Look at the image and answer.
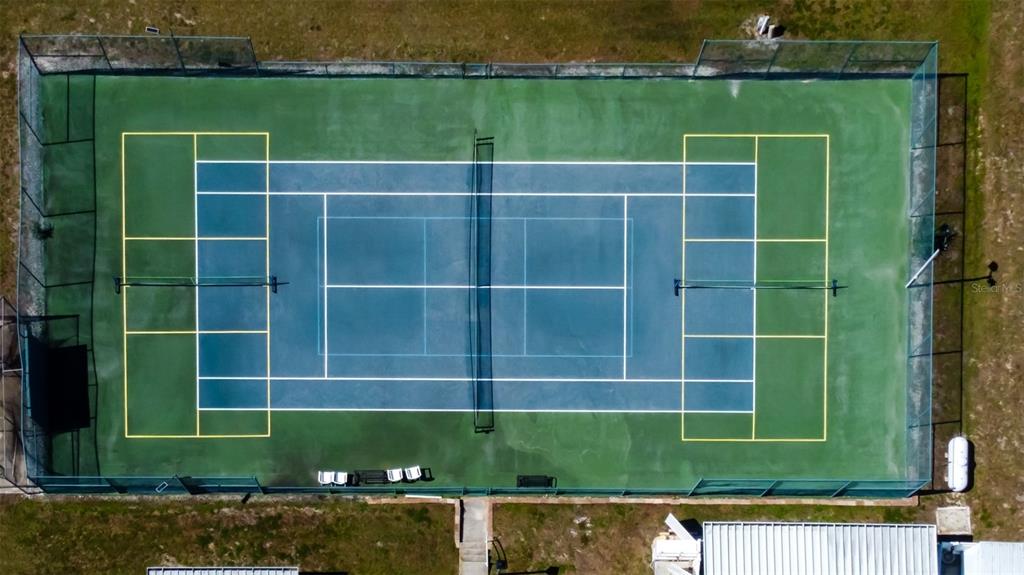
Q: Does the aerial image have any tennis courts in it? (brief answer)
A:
Yes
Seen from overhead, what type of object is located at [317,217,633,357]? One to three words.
sports court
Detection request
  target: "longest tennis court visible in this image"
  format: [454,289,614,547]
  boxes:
[40,77,913,495]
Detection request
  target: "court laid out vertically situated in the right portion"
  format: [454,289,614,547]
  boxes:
[682,134,830,441]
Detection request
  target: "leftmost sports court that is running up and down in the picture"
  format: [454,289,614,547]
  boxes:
[123,132,271,437]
